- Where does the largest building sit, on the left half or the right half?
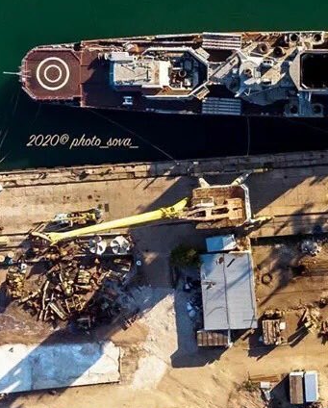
right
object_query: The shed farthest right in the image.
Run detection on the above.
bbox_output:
[305,369,320,404]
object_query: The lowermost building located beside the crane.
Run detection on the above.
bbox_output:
[201,249,260,349]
